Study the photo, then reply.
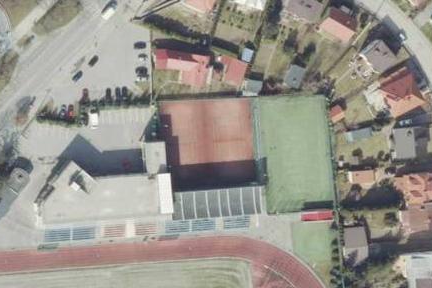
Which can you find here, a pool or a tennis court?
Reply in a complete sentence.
This aerial view contains a tennis court.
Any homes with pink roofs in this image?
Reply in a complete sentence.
Yes, you can see a home with a pink roof in this photo.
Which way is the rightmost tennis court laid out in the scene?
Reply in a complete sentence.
The rightmost tennis court has been laid out from top to bottom relative to the frame.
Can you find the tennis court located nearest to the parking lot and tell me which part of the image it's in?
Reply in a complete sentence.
The tennis court located nearest to the parking lot is in the center part of the image.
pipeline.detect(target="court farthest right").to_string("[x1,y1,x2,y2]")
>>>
[207,98,253,187]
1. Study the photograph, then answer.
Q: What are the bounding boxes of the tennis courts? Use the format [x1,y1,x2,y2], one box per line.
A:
[207,98,253,187]
[159,99,209,190]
